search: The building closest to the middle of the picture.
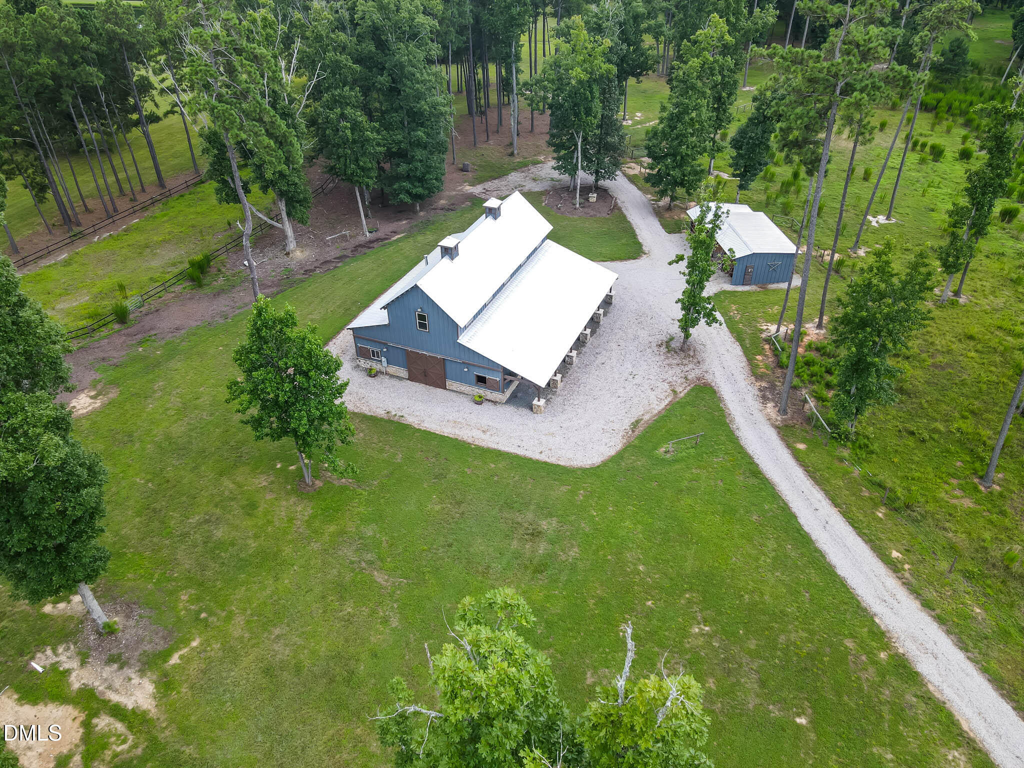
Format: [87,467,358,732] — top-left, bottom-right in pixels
[344,191,618,411]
